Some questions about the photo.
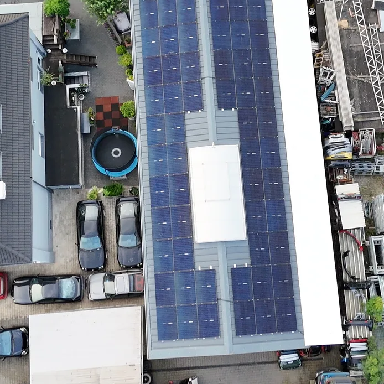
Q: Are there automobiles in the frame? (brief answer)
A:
Yes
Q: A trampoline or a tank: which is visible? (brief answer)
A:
trampoline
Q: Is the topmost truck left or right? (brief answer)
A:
right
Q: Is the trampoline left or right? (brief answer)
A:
left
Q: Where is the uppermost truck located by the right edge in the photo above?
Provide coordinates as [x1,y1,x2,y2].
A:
[332,184,368,229]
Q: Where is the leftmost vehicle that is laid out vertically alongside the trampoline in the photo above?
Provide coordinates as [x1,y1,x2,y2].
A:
[73,199,108,272]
